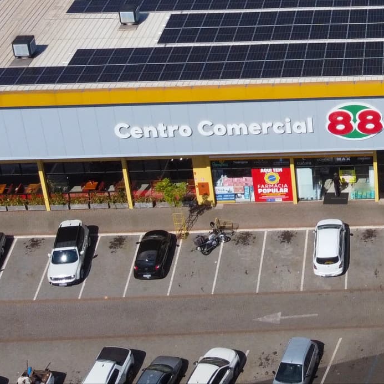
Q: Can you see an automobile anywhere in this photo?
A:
Yes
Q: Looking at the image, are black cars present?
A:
Yes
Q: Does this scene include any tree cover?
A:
No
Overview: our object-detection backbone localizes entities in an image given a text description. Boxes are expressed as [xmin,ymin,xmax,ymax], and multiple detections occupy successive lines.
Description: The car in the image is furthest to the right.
[312,221,349,275]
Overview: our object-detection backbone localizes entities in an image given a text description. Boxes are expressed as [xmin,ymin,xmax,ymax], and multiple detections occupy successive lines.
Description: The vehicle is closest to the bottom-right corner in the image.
[268,335,322,384]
